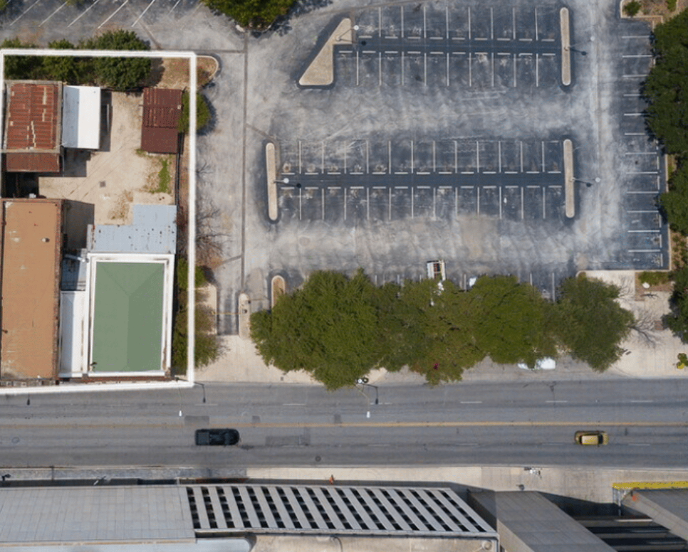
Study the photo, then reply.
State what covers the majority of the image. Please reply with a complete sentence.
The scene is dominated by paved ground.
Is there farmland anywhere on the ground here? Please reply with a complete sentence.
No, there is no farmland in the image.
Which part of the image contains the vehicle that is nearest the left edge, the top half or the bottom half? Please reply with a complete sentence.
The vehicle that is nearest the left edge sits in the bottom half of the picture.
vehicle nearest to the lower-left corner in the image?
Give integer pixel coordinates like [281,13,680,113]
[195,426,239,446]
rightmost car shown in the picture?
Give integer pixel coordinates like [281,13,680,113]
[574,430,607,447]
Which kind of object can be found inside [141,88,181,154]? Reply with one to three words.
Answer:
shed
